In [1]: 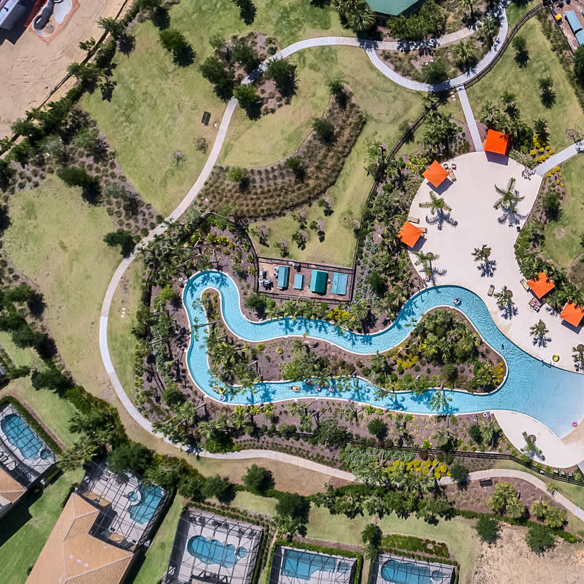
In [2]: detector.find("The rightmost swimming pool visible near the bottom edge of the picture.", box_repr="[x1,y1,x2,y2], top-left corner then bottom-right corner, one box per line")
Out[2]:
[379,560,433,584]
